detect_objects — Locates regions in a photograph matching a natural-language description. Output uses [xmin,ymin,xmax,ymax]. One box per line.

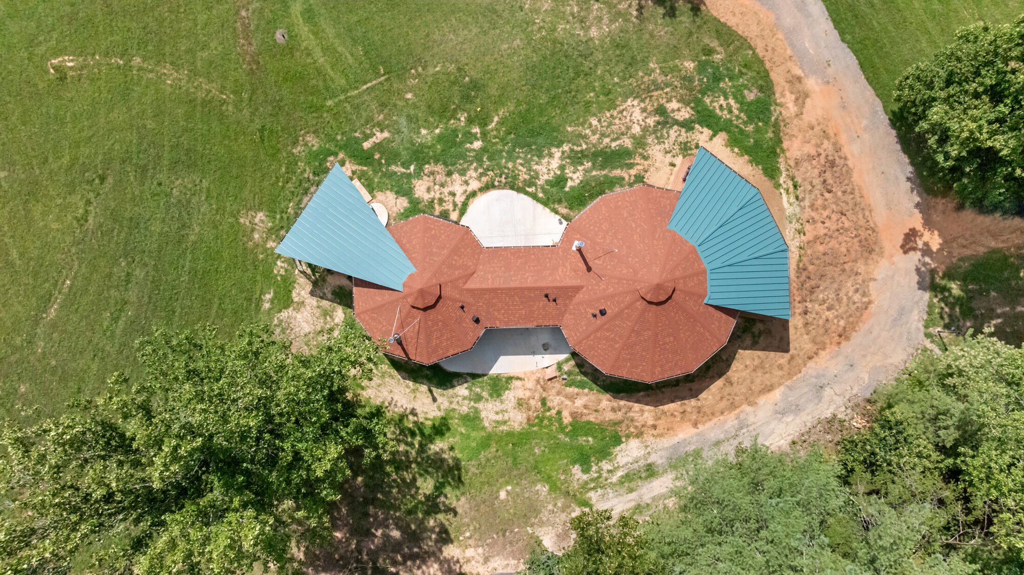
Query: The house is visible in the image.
[275,146,794,385]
